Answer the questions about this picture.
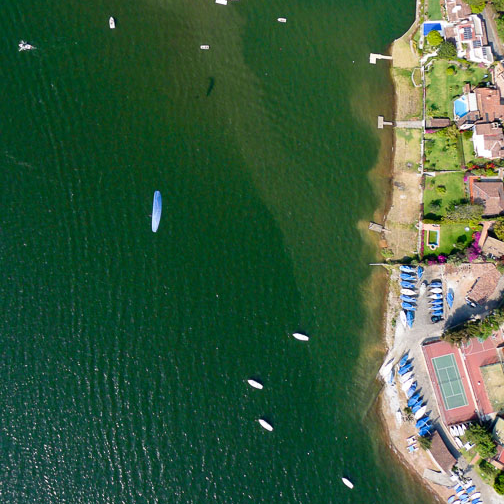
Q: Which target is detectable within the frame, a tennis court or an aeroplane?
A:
tennis court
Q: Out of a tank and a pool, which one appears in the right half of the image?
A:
pool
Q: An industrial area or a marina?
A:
marina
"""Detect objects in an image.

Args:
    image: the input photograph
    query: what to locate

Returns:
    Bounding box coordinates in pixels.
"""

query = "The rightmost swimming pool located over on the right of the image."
[453,94,470,120]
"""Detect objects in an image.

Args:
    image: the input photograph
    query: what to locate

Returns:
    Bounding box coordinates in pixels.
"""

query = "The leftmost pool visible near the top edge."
[420,21,445,41]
